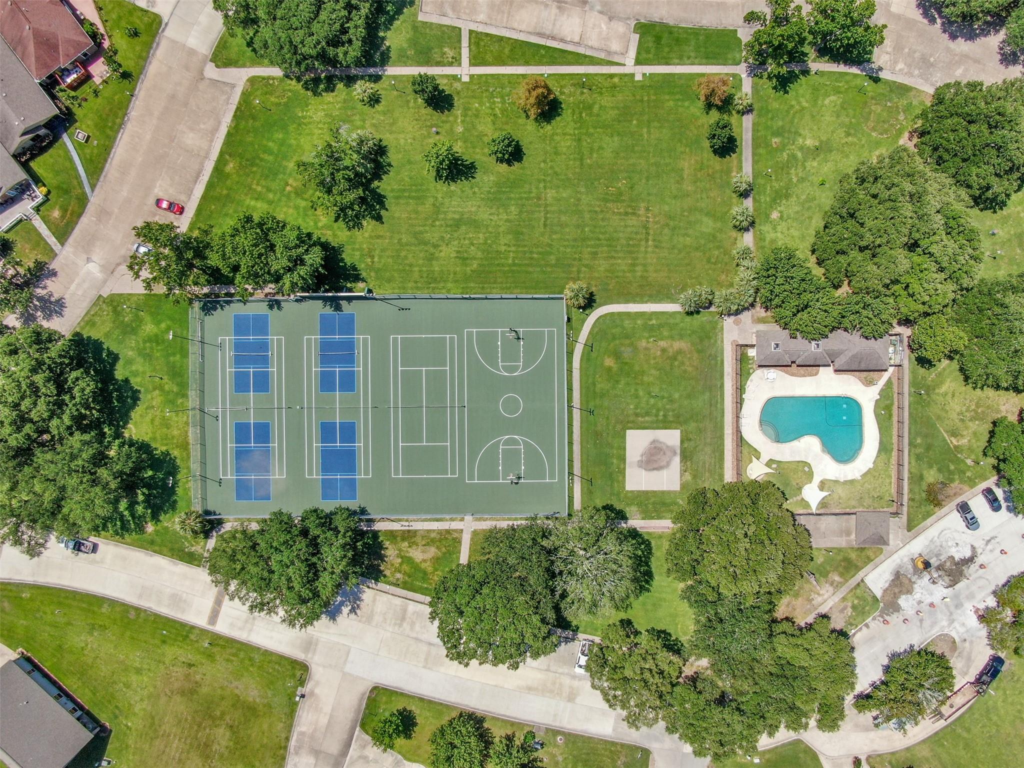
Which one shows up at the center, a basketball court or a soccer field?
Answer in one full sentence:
Looking at the center, you will find a basketball court.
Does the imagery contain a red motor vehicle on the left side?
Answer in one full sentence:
Yes, on the left side there is a red motor vehicle.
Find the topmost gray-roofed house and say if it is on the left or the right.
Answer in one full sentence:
You can find the topmost gray-roofed house on the left side of the picture.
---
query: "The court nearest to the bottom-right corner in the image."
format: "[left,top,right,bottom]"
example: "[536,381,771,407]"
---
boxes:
[626,430,680,490]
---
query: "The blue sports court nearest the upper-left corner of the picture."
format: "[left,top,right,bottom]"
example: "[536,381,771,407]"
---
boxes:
[233,313,270,394]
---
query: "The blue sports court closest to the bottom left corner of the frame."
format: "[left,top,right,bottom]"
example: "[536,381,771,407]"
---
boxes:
[234,421,271,501]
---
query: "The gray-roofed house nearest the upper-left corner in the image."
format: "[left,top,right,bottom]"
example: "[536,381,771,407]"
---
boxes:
[0,38,67,152]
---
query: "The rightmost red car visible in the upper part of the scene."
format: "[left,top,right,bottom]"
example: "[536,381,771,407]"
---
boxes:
[152,195,183,214]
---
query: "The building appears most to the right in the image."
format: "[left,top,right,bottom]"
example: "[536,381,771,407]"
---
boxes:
[850,510,890,546]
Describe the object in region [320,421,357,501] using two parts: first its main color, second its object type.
blue sports court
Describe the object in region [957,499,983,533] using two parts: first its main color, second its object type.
gray truck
